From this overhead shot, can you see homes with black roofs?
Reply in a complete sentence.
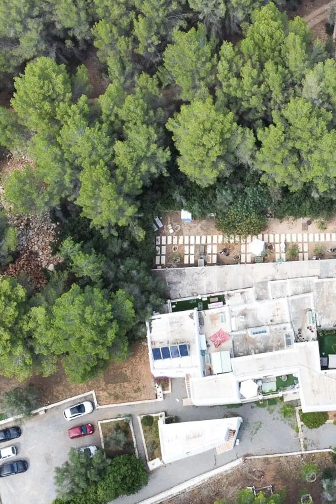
No, the picture doesn't show any home with a black roof.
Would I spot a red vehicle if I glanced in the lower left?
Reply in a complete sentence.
Yes, a red vehicle is visible in the lower left.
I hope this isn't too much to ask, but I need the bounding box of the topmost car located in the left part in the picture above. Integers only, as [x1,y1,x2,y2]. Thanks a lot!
[62,400,95,421]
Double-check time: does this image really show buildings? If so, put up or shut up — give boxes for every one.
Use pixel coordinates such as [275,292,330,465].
[146,413,245,470]
[146,259,336,414]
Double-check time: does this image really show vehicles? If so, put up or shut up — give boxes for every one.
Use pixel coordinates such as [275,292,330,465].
[0,445,18,461]
[62,400,95,421]
[73,442,99,457]
[0,425,22,442]
[0,460,29,477]
[68,423,95,439]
